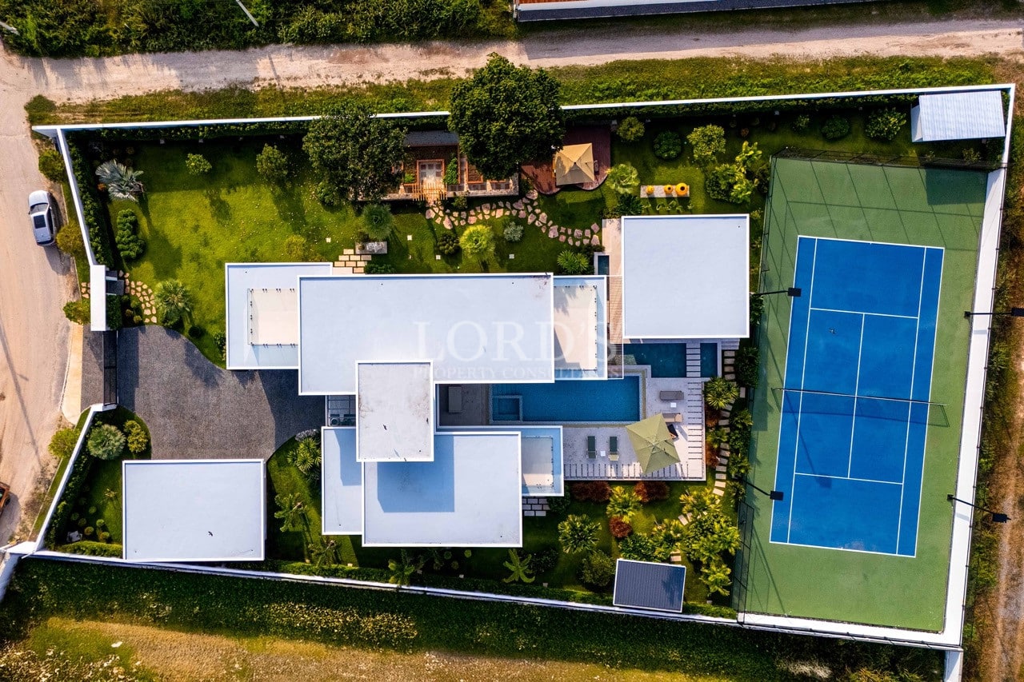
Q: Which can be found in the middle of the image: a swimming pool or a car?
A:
swimming pool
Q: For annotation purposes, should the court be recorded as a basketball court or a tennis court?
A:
tennis court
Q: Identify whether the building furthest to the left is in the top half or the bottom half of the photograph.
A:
bottom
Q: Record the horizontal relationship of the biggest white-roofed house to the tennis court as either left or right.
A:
to the left of it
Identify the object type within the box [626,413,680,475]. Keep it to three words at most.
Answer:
umbrella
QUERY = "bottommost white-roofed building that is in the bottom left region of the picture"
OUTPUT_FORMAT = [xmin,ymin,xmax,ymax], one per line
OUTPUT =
[122,458,269,562]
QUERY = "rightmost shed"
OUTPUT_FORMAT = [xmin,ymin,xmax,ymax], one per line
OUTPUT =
[905,91,1006,146]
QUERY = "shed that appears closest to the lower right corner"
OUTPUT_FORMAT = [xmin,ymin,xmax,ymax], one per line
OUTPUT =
[613,558,687,613]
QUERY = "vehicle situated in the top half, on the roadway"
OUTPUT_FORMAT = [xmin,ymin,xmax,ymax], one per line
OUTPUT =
[24,188,62,246]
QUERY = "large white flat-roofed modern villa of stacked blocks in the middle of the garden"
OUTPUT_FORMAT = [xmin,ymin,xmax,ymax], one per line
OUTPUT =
[226,263,607,547]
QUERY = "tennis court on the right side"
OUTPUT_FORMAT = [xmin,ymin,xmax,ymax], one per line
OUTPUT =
[738,158,984,632]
